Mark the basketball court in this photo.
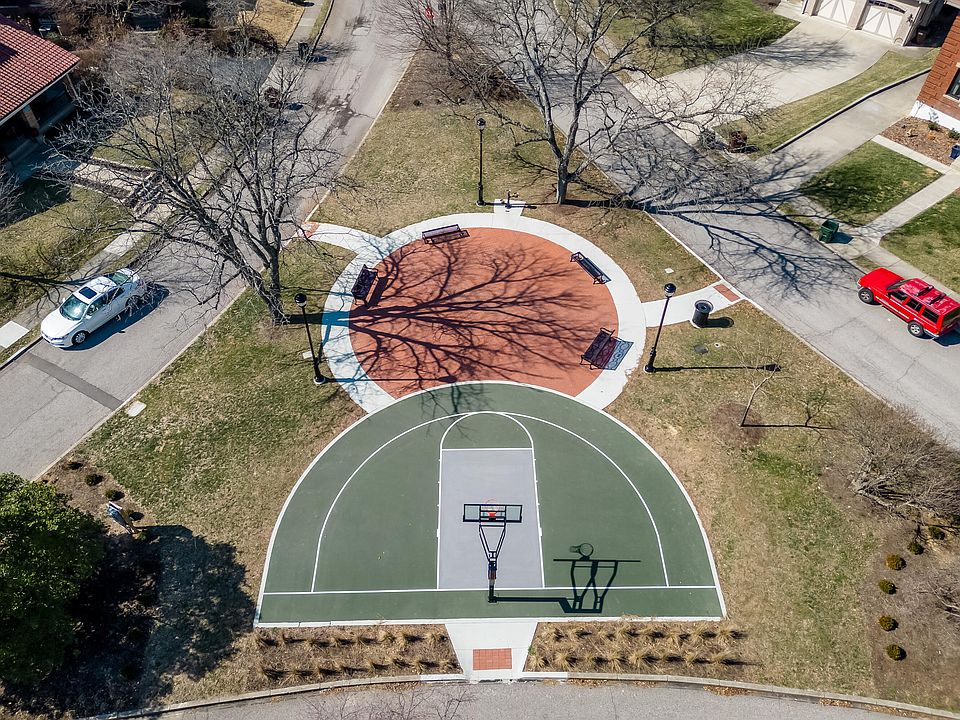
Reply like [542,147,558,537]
[256,381,726,628]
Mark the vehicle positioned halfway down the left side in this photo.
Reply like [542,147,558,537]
[39,269,148,348]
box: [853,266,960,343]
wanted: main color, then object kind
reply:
red car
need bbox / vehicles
[39,269,148,348]
[853,266,960,343]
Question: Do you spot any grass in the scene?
Yes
